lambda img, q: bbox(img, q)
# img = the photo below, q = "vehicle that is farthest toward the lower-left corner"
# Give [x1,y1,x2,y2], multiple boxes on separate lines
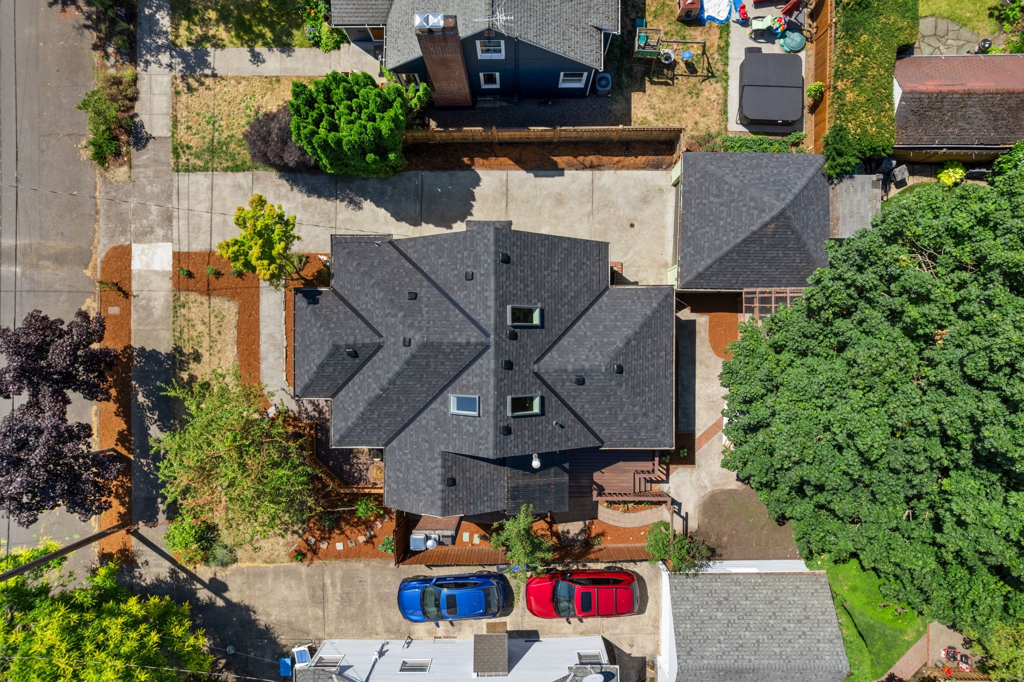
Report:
[398,572,507,630]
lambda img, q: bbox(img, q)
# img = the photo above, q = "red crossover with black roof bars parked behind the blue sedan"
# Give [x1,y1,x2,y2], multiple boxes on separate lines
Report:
[527,569,639,627]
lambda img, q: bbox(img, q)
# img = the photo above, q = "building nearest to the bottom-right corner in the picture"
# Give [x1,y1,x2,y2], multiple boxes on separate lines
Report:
[655,552,850,682]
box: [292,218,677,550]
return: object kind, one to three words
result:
house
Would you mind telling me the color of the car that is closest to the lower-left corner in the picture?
blue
